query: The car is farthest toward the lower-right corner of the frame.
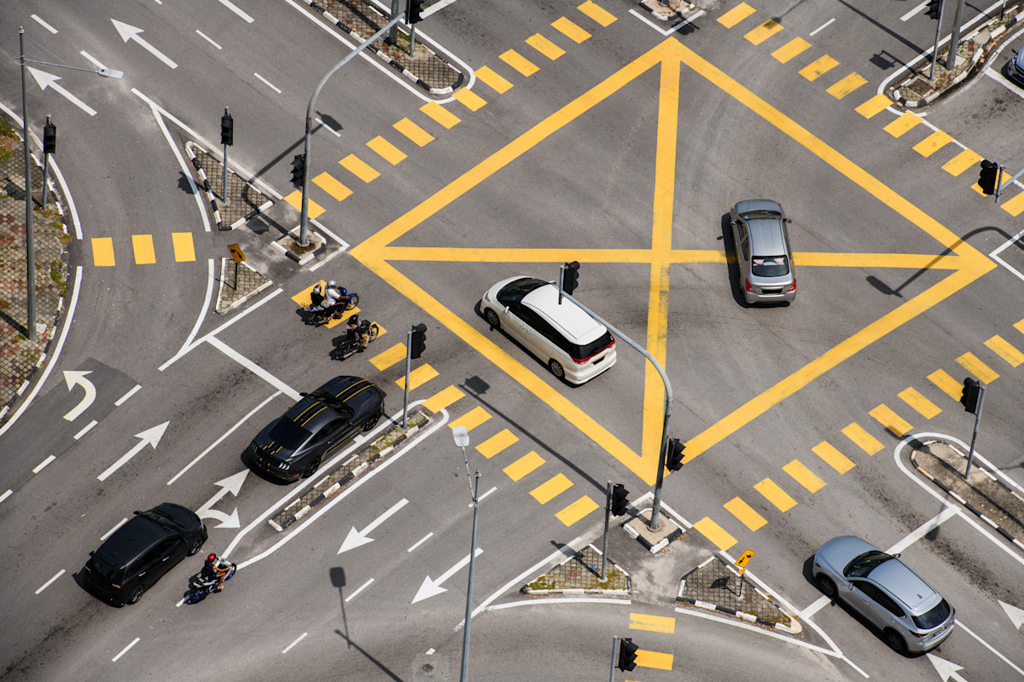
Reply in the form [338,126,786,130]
[816,539,960,656]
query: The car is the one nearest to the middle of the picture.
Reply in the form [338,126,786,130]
[479,272,619,385]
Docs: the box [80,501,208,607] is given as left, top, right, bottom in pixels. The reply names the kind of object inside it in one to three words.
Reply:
car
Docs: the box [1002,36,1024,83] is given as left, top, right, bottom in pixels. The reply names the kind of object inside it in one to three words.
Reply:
car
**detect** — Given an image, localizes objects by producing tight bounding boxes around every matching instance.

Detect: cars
[816,539,960,656]
[730,199,796,306]
[479,272,619,385]
[80,501,208,607]
[1002,36,1024,83]
[246,374,387,485]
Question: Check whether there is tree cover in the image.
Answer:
No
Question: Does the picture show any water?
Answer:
No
